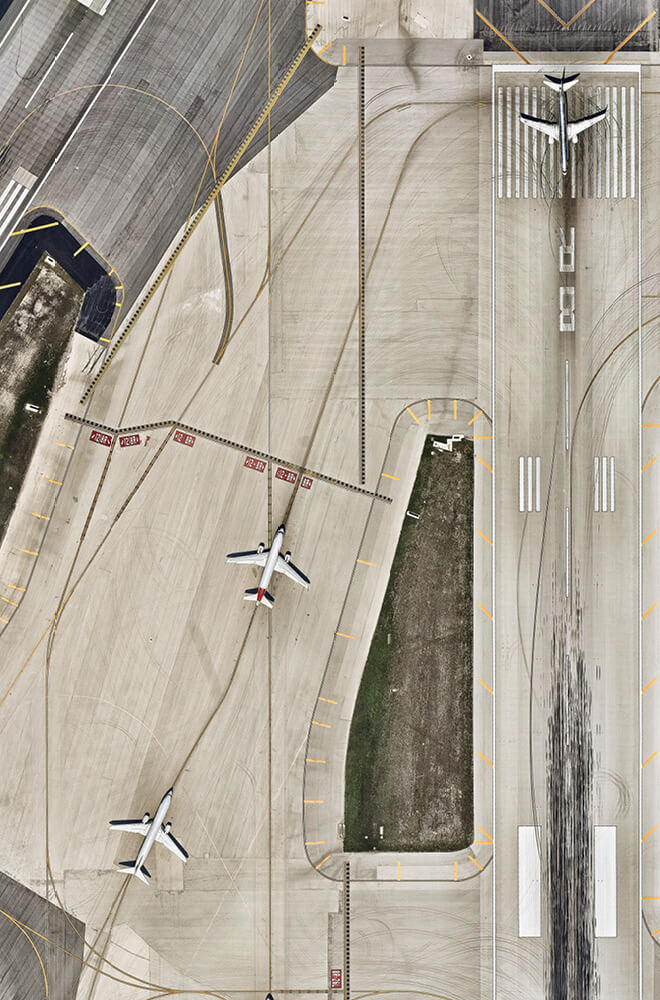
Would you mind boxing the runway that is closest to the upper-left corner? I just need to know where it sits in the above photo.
[0,0,159,250]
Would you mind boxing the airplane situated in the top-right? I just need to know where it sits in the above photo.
[519,76,608,174]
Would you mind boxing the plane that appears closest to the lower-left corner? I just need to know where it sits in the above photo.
[108,790,187,886]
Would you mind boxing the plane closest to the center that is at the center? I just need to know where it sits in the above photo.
[227,527,309,607]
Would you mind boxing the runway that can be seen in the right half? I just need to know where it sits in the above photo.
[492,65,660,1000]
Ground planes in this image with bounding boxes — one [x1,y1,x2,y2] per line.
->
[519,76,608,174]
[108,790,187,886]
[227,527,309,607]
